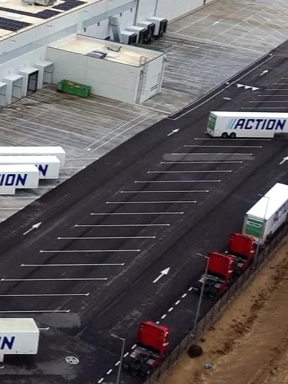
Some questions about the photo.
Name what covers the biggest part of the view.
paved ground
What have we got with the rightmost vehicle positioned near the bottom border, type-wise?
truck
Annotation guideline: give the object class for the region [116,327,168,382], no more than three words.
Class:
truck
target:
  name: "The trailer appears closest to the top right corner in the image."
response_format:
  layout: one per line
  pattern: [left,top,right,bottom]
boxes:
[207,111,288,139]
